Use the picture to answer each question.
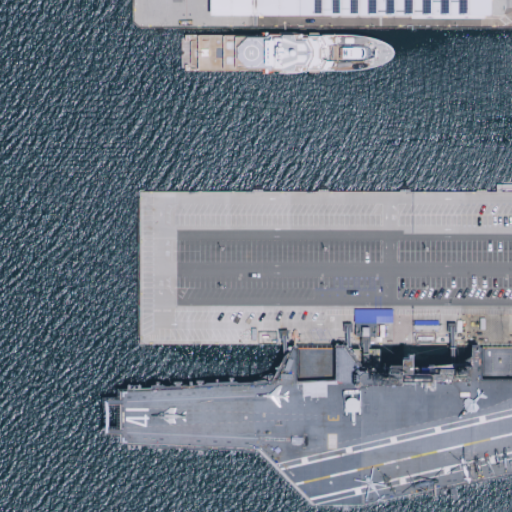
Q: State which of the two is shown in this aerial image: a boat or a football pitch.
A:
boat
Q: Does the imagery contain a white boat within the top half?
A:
Yes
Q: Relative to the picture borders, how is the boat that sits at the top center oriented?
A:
from left to right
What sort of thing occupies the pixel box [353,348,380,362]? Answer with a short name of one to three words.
ship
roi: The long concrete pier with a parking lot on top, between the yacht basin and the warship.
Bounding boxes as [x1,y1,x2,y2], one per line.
[140,190,512,346]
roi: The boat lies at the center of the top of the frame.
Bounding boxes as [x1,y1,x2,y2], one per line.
[182,32,394,74]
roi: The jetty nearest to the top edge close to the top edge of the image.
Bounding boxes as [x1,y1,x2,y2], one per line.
[134,0,512,28]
